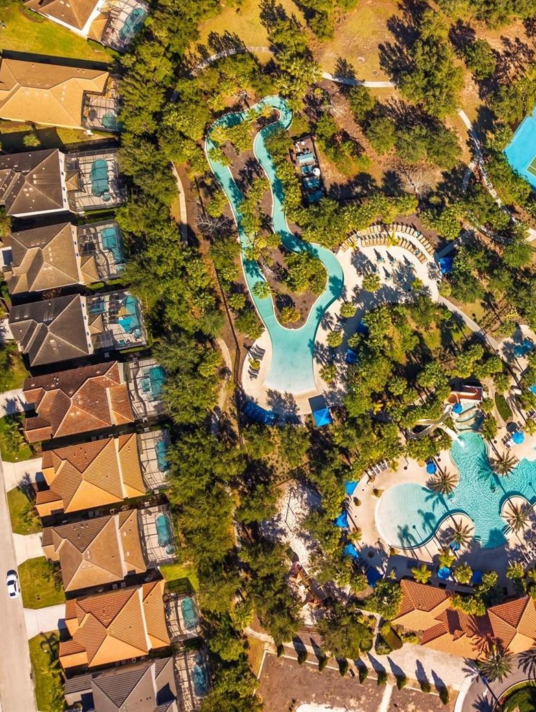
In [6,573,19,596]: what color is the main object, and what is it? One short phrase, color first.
white vehicle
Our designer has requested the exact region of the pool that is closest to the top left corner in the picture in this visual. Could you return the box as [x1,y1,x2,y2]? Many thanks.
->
[123,10,145,35]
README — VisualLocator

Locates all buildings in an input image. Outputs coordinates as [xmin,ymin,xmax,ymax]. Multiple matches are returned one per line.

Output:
[24,0,118,35]
[59,579,174,668]
[42,509,150,592]
[23,360,138,443]
[0,148,76,219]
[9,294,101,367]
[0,58,113,131]
[389,579,536,663]
[4,222,89,294]
[35,434,149,517]
[63,655,188,712]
